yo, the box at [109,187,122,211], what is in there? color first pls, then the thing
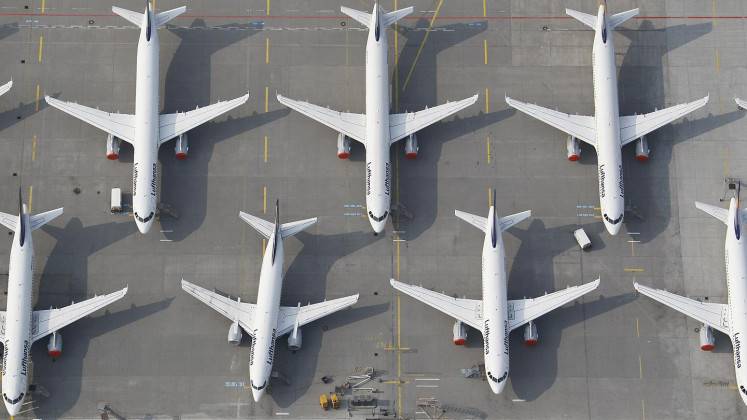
white vehicle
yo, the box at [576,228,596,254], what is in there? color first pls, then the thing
white vehicle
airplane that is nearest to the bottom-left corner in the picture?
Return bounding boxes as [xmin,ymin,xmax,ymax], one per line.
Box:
[0,187,126,416]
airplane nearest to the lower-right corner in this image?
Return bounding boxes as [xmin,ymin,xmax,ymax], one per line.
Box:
[633,182,747,411]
